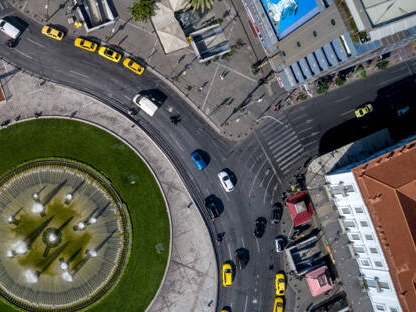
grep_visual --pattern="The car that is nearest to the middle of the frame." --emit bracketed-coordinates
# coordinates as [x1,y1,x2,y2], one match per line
[191,151,207,171]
